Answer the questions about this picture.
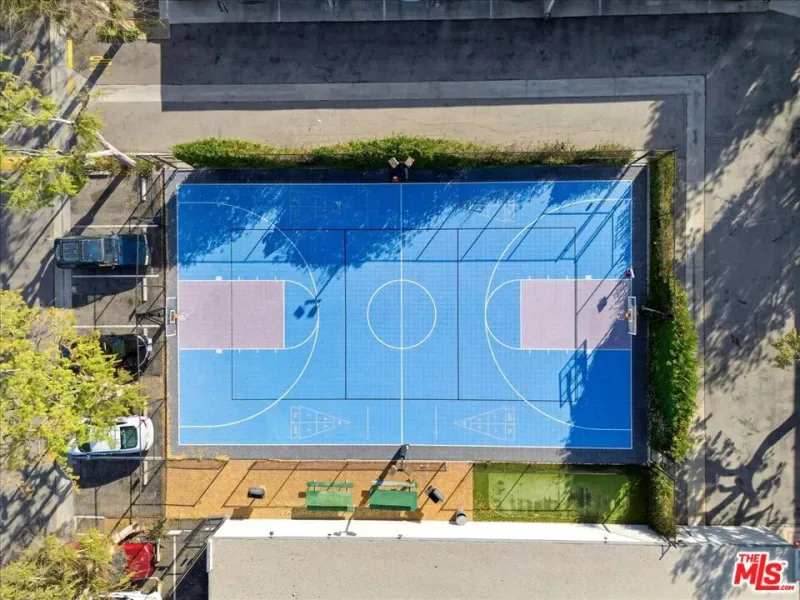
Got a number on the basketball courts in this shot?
1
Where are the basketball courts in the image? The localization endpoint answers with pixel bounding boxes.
[166,165,648,464]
